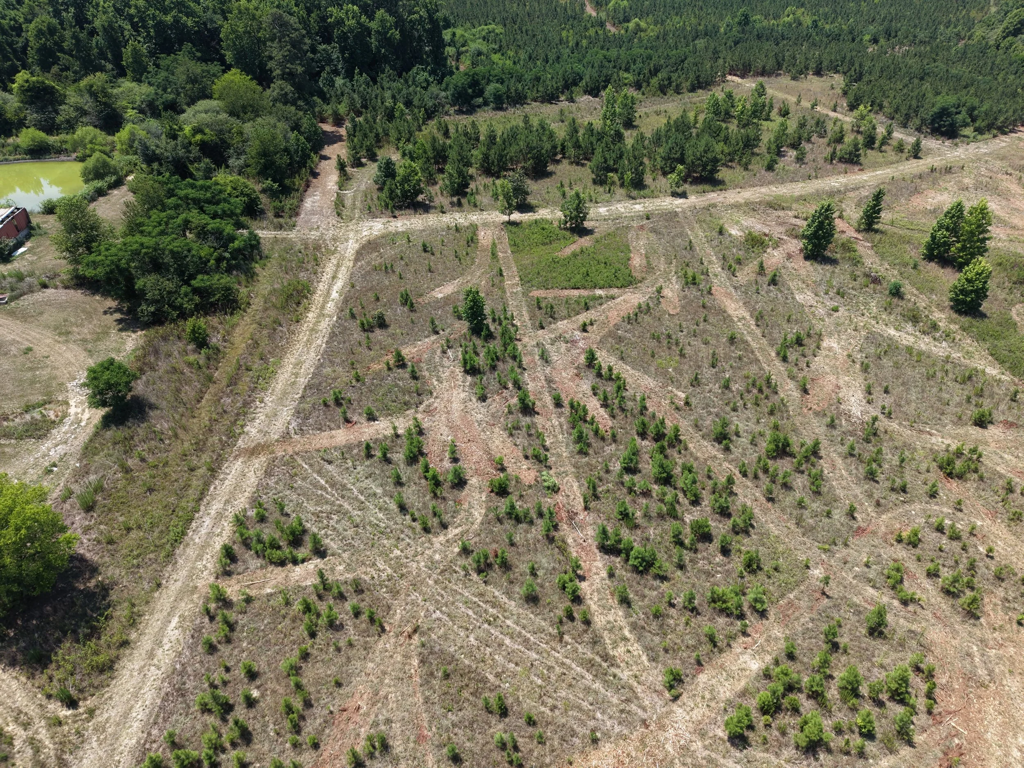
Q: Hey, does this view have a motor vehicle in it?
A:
No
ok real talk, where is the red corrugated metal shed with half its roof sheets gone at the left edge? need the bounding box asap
[0,205,31,248]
